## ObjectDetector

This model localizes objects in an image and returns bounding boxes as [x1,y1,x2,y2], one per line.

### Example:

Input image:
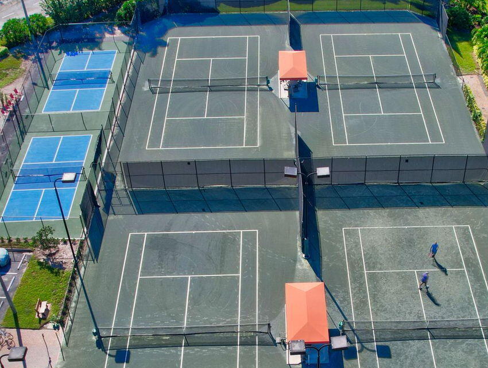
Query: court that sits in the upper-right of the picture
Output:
[288,9,488,186]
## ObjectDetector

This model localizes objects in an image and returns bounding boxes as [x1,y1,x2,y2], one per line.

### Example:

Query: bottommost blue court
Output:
[0,123,114,237]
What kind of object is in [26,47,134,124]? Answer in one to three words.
sports court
